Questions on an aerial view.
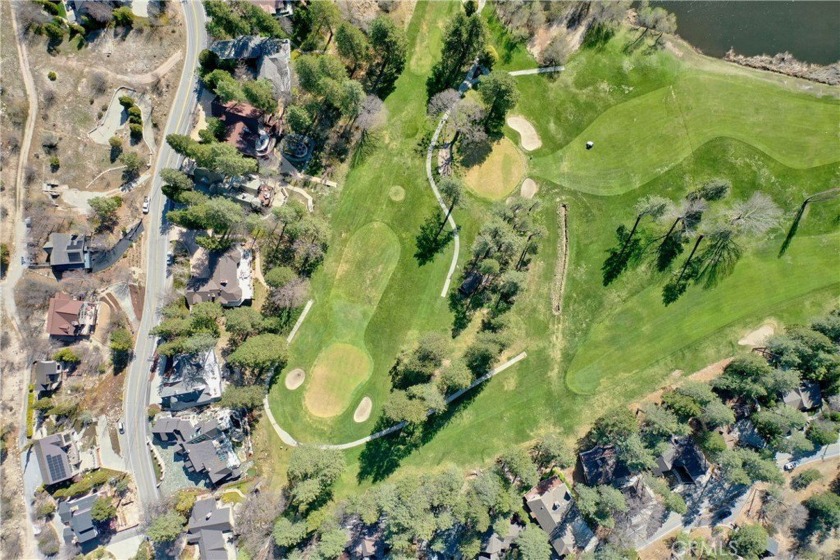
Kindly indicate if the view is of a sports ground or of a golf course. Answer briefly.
golf course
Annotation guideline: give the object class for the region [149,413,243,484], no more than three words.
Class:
house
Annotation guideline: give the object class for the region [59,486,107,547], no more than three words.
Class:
house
